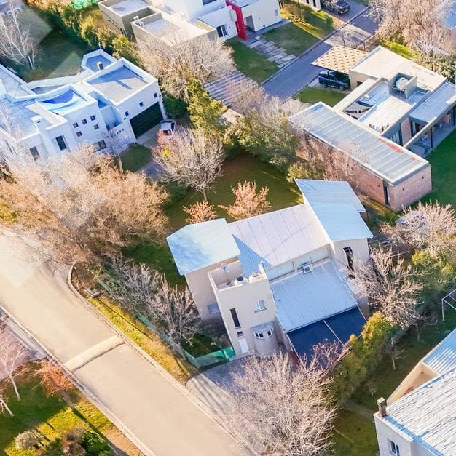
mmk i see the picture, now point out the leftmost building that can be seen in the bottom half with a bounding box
[166,179,390,383]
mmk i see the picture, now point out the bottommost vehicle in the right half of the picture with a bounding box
[317,68,351,91]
